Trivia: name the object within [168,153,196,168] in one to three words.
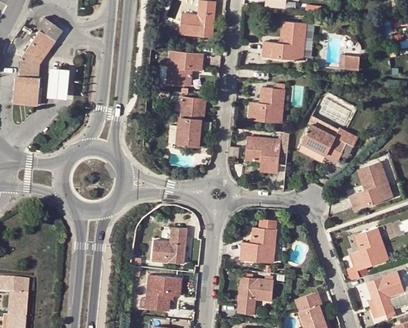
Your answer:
swimming pool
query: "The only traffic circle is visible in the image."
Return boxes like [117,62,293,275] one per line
[66,138,122,221]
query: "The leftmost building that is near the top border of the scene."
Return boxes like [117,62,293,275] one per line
[12,16,63,106]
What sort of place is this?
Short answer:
residential area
